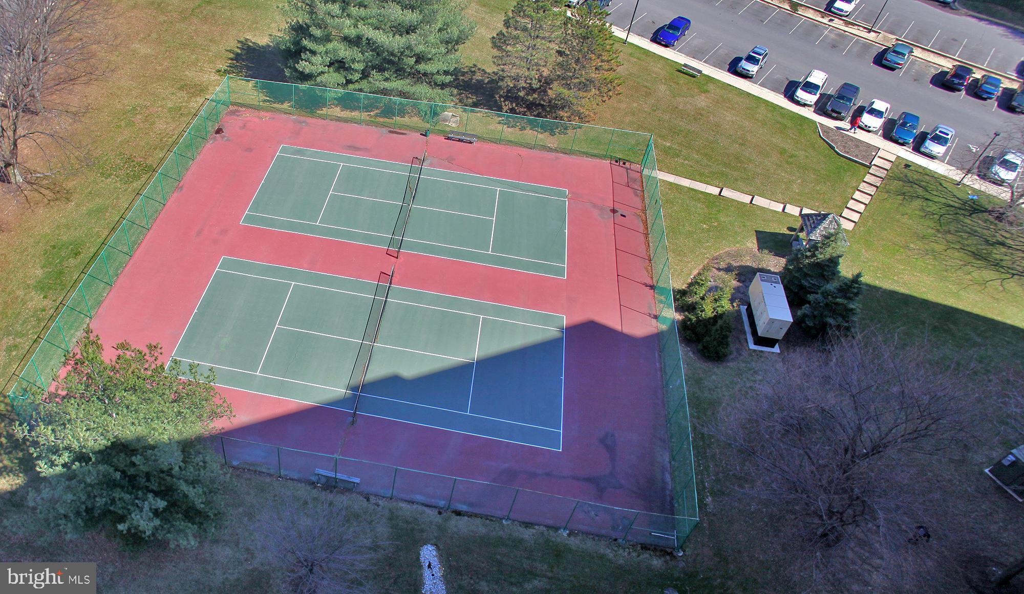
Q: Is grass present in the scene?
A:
Yes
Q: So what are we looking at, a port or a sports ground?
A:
sports ground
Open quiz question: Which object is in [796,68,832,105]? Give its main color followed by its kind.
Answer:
white car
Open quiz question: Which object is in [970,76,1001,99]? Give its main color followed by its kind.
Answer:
blue car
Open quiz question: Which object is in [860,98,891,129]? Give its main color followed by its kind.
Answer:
white car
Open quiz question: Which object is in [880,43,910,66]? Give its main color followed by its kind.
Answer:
blue car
